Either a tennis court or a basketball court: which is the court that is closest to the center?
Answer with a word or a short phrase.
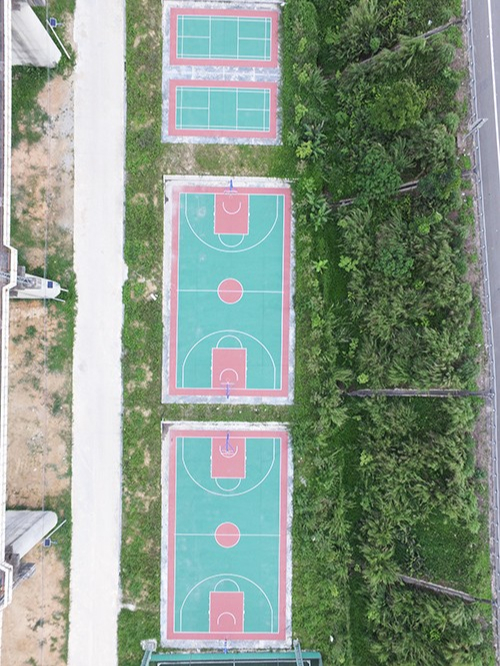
basketball court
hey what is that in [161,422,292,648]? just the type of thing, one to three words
basketball court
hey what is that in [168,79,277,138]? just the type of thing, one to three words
sports court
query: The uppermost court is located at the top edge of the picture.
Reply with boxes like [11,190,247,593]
[170,8,278,67]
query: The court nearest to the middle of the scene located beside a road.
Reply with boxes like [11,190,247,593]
[162,178,294,403]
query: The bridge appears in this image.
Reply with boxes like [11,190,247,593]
[0,0,62,666]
